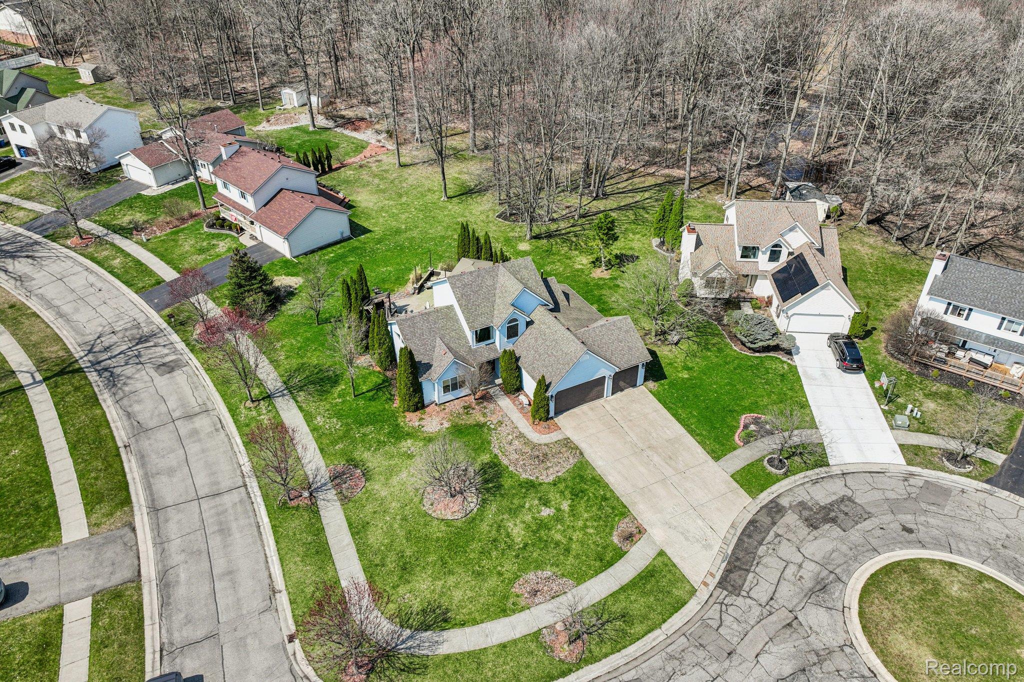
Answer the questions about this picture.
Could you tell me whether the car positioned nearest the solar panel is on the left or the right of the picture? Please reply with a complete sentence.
It is on the right.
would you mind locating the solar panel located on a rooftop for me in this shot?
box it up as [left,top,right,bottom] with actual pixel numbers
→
[770,253,818,304]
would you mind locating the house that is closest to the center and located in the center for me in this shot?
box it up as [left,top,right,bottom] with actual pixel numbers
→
[386,255,654,417]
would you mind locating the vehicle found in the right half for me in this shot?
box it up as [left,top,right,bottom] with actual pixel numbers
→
[828,336,867,371]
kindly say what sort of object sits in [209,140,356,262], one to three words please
house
